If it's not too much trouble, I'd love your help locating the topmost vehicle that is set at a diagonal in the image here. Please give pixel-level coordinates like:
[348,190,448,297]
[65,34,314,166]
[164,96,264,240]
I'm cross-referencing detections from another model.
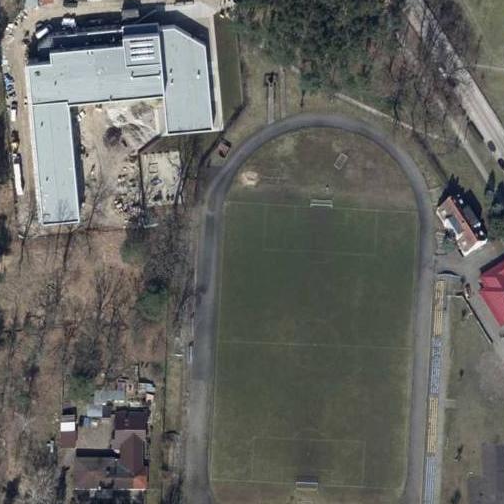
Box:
[34,22,54,40]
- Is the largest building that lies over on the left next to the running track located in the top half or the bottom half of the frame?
top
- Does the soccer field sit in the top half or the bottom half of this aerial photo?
bottom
